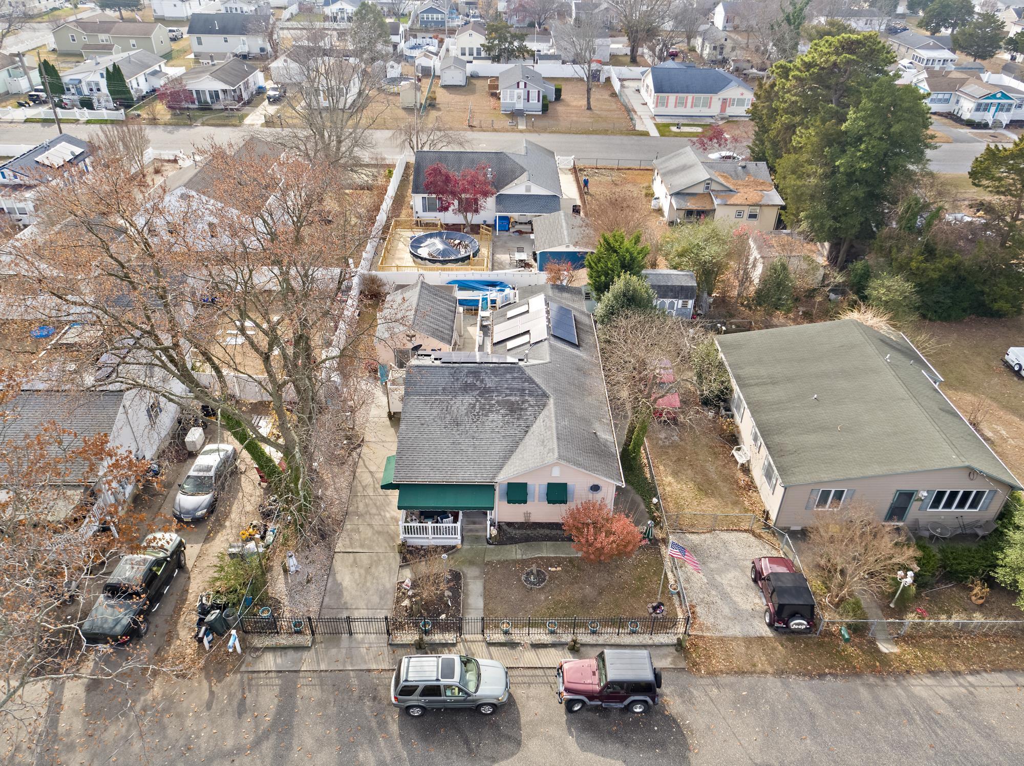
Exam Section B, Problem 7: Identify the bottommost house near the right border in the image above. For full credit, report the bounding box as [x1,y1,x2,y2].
[712,314,1024,559]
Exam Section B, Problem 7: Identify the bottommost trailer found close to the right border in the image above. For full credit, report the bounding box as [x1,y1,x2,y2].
[981,341,1024,381]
